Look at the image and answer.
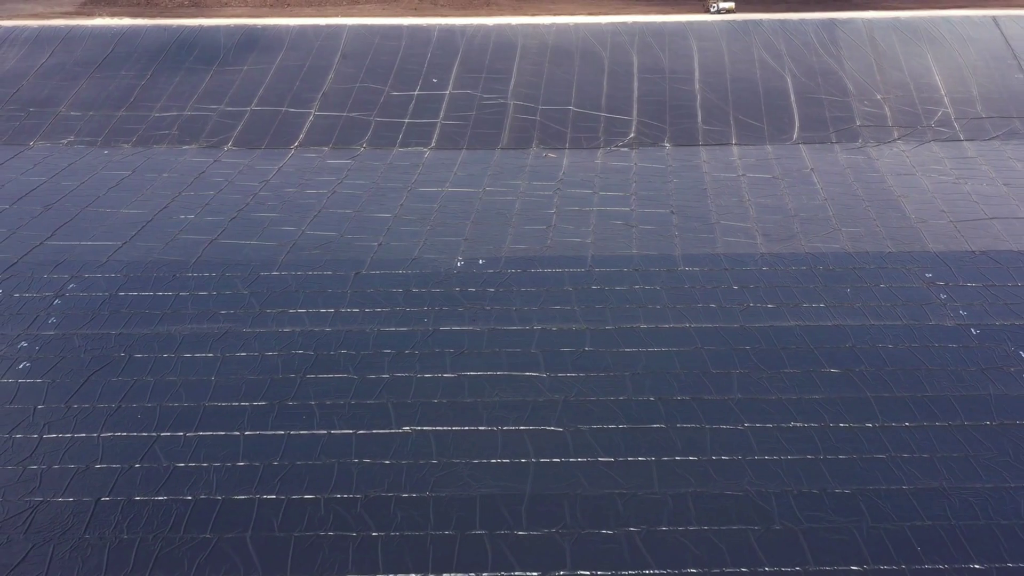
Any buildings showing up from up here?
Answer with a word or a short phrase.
No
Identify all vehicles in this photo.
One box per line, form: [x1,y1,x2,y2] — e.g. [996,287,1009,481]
[709,2,739,14]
